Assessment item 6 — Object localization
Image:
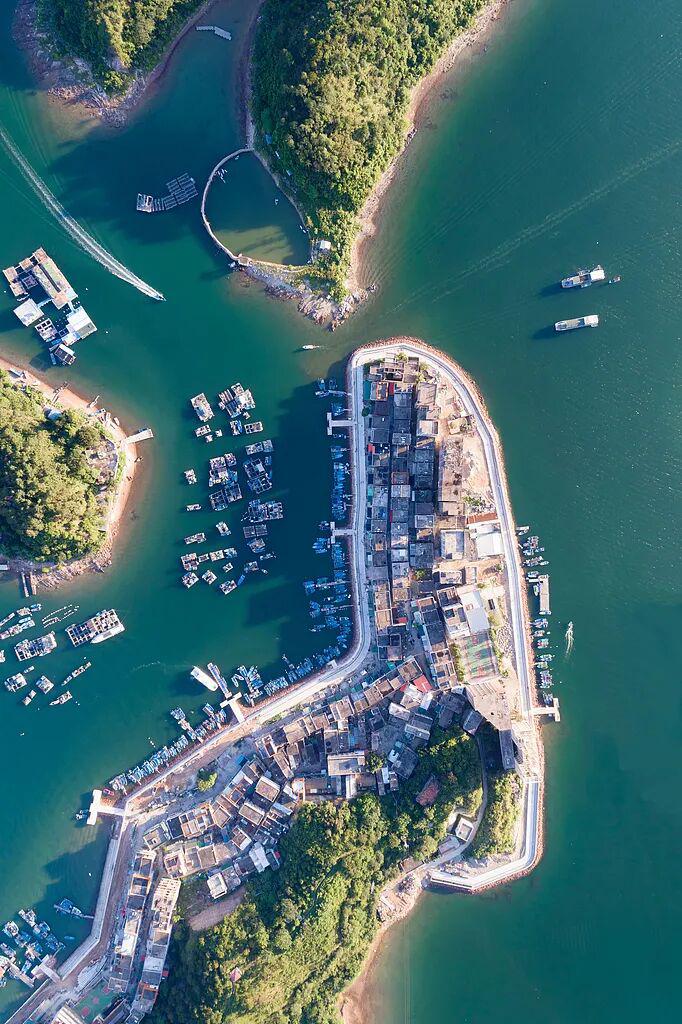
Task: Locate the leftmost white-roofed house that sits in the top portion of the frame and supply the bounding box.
[11,298,43,326]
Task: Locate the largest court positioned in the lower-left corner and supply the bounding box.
[79,979,120,1022]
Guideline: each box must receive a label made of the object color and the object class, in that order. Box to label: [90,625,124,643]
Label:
white boat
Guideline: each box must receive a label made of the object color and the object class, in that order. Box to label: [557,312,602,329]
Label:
white ship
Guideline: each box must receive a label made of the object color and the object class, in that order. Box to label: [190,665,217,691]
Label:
white ship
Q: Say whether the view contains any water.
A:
Yes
